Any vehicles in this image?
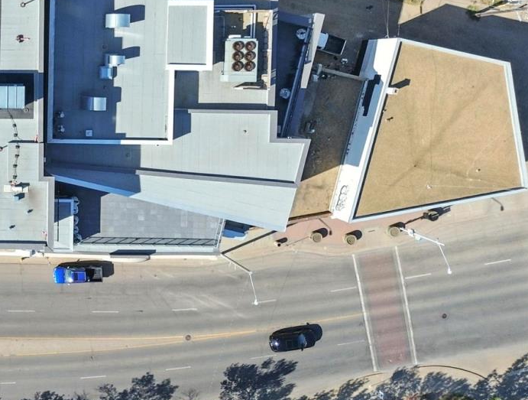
Yes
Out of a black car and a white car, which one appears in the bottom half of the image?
black car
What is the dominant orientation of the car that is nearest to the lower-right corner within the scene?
from left to right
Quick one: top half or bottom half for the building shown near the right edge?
top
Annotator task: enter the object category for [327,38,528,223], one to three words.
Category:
building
